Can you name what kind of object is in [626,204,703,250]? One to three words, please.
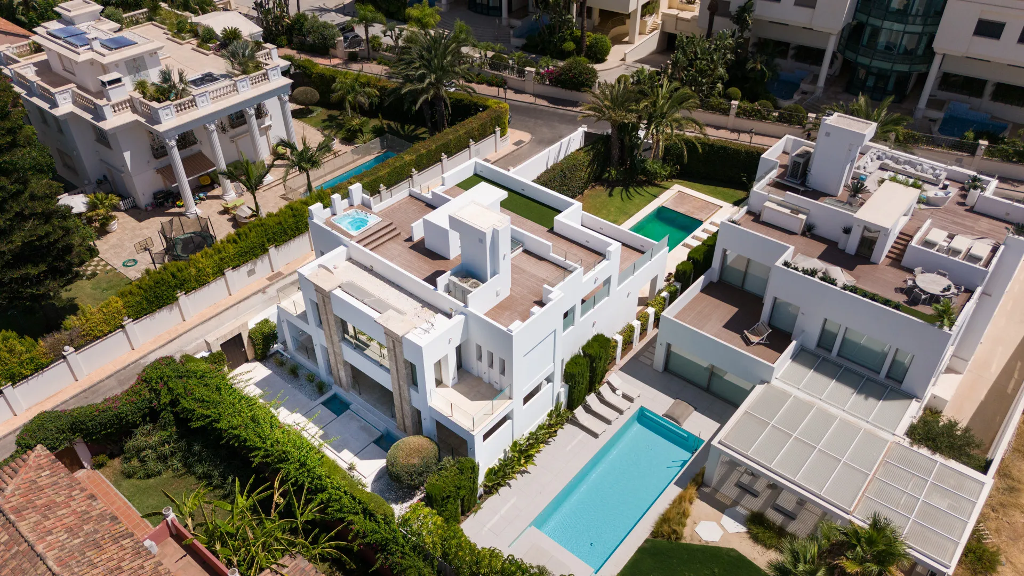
swimming pool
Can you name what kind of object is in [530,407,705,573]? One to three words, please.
swimming pool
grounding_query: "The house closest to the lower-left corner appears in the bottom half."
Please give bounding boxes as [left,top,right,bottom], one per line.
[0,437,228,576]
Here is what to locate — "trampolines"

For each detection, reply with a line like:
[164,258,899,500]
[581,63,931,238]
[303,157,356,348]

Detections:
[158,208,218,260]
